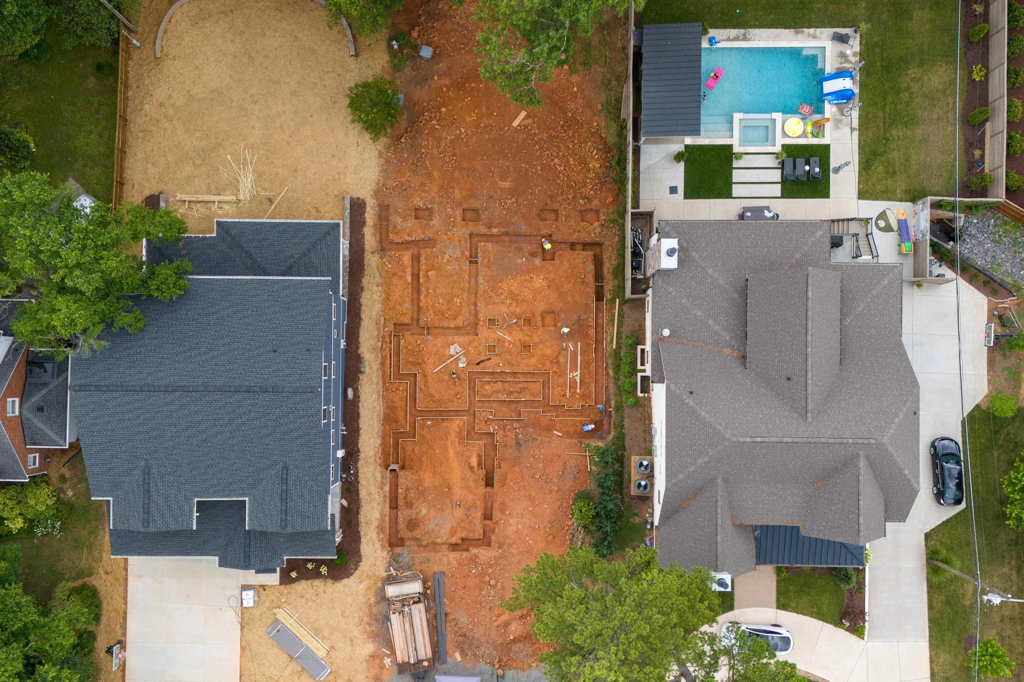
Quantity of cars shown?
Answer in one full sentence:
The number of cars here is 2.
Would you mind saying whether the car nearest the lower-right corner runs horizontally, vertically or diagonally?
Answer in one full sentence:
Seen from above, the car nearest the lower-right corner lies vertically.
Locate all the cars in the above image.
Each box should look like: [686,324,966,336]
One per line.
[930,437,966,508]
[722,623,795,659]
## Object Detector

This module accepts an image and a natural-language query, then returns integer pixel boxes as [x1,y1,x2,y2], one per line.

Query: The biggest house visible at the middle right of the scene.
[642,219,921,595]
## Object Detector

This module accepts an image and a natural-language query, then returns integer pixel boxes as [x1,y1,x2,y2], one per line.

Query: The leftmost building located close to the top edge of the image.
[635,17,702,147]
